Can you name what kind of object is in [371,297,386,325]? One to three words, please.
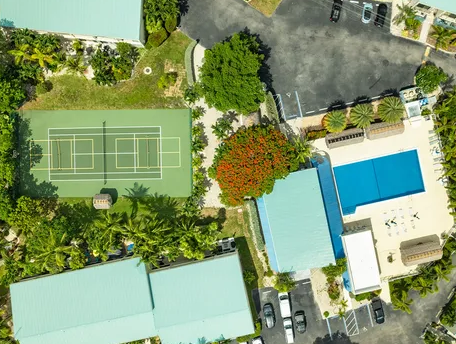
vehicle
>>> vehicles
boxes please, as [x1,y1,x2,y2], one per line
[371,297,386,325]
[329,0,343,23]
[263,303,275,329]
[362,3,373,24]
[279,293,291,320]
[374,2,389,28]
[295,310,306,333]
[253,336,263,344]
[284,318,297,344]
